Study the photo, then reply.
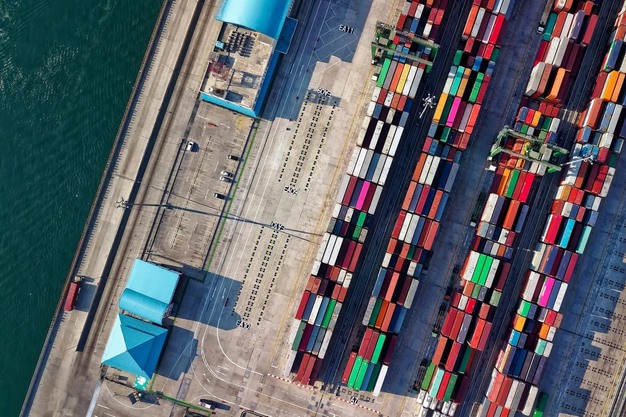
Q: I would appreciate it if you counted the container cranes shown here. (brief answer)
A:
2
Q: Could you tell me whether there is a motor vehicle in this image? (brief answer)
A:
Yes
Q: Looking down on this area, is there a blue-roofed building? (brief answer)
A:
Yes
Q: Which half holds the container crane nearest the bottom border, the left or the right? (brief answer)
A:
right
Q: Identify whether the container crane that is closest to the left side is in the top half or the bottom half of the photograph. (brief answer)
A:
top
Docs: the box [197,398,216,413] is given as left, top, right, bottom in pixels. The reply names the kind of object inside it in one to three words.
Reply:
vehicle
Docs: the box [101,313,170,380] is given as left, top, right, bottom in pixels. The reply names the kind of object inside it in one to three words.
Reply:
building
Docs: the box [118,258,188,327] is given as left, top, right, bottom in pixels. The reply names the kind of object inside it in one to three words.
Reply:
building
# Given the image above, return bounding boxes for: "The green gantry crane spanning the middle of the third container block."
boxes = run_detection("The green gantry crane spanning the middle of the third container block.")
[482,124,570,180]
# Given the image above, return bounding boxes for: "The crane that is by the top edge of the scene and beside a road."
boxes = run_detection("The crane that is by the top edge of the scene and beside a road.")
[370,20,443,87]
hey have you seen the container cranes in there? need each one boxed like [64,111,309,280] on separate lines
[482,124,570,180]
[370,20,443,87]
